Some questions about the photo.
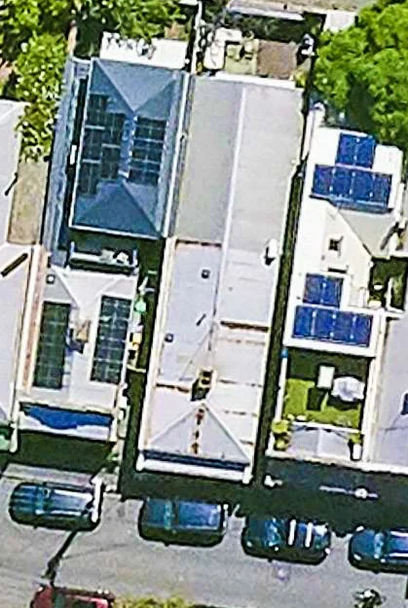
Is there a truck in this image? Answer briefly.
No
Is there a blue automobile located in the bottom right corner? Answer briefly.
Yes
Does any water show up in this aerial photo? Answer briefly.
No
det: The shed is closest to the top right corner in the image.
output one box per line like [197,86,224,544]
[323,9,356,32]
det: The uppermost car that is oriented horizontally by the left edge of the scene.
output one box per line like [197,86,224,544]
[8,478,97,521]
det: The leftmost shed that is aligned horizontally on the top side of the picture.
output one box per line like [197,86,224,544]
[226,0,305,21]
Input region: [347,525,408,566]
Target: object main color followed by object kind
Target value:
blue car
